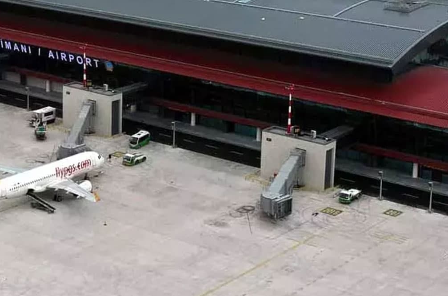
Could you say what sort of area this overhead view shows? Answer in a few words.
airport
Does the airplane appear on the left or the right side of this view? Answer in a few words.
left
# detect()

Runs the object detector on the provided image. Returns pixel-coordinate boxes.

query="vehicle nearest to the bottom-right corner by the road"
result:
[337,188,364,204]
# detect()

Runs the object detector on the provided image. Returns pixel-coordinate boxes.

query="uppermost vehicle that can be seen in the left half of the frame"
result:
[29,102,59,127]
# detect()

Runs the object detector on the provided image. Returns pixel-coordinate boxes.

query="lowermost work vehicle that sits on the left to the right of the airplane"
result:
[121,151,149,164]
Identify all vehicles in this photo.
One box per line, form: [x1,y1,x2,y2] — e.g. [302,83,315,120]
[20,190,51,221]
[337,188,364,204]
[127,128,153,147]
[33,128,48,139]
[29,102,59,127]
[121,151,149,164]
